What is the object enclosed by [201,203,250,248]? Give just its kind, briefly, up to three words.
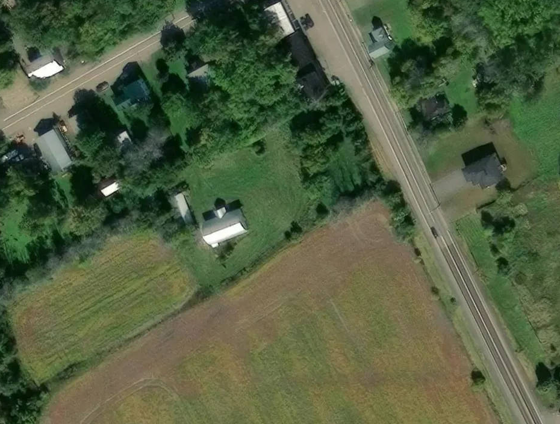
barn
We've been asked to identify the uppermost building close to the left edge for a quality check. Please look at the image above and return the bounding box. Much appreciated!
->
[26,50,67,81]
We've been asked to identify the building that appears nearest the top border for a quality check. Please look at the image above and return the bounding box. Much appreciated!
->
[268,0,298,36]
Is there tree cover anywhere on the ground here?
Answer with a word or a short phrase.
Yes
